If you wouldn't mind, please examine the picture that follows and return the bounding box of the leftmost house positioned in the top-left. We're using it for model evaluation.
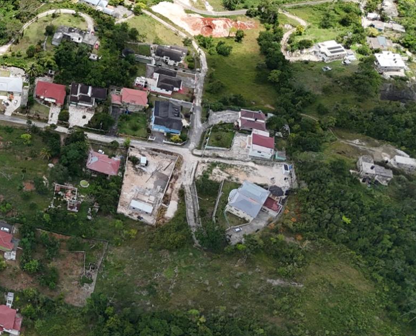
[0,78,22,98]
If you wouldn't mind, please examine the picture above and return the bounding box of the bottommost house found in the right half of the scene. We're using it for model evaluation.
[226,181,283,226]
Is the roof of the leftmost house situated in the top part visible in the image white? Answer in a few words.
Yes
